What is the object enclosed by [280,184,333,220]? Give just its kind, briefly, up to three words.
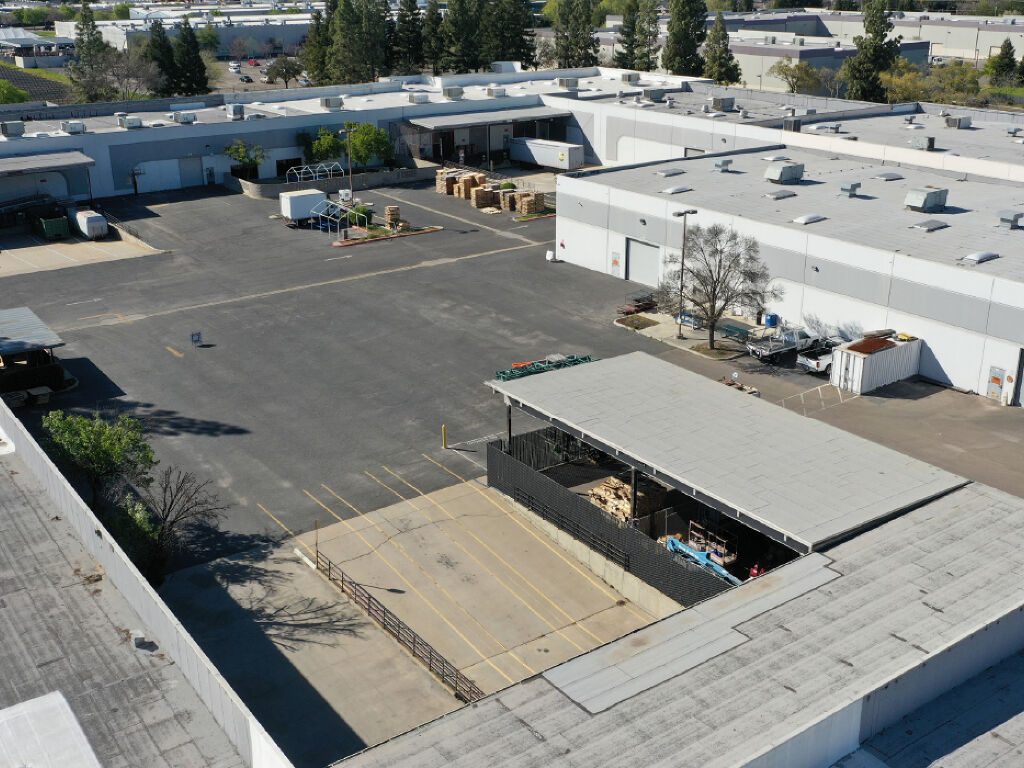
trailer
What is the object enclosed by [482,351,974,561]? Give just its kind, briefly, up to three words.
shed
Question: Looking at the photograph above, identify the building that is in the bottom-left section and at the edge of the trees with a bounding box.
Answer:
[0,399,294,768]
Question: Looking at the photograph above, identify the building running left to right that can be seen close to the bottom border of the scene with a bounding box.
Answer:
[314,479,1024,768]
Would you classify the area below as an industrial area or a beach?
industrial area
